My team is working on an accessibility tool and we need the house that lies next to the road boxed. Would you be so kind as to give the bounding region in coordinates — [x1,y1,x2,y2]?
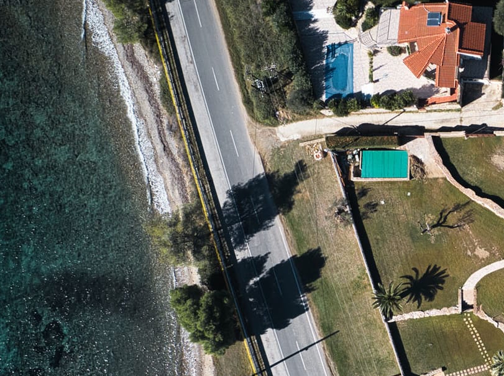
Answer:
[398,2,485,106]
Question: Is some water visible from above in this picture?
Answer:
Yes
